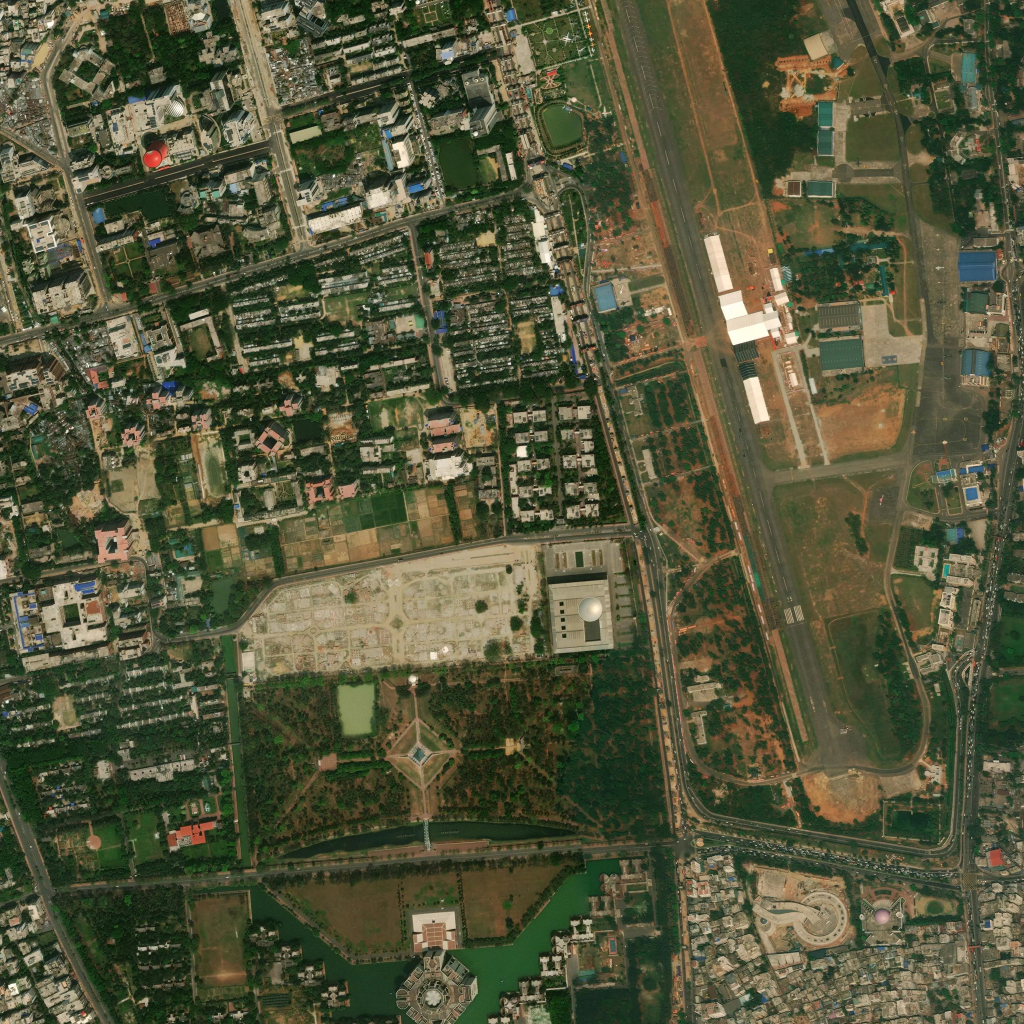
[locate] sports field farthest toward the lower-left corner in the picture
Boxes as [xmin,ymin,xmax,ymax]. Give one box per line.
[195,895,247,987]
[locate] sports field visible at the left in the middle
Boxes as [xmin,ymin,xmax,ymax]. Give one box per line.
[199,432,225,496]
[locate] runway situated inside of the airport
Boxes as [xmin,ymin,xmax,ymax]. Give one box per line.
[613,0,843,760]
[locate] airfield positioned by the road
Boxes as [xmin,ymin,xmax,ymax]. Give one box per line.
[613,0,985,783]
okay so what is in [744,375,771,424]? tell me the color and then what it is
white tent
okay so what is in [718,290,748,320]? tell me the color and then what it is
white tent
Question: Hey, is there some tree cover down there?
Yes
